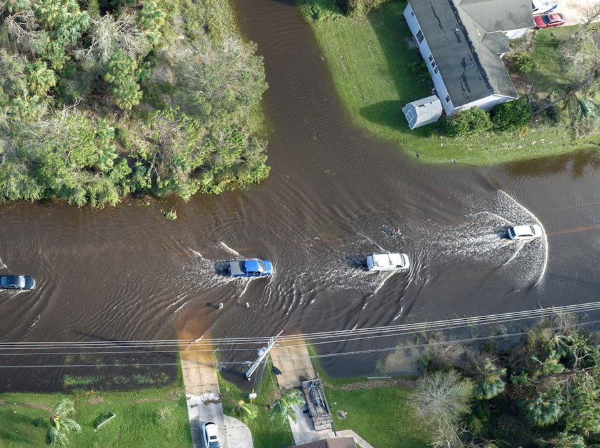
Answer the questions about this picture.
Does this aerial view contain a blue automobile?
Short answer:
Yes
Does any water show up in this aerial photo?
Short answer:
Yes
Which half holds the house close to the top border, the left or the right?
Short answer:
right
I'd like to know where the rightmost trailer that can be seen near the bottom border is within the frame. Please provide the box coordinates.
[299,371,332,430]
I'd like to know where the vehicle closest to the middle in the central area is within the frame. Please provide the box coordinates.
[227,257,273,275]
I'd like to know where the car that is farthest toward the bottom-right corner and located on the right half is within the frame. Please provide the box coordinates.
[506,222,543,240]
